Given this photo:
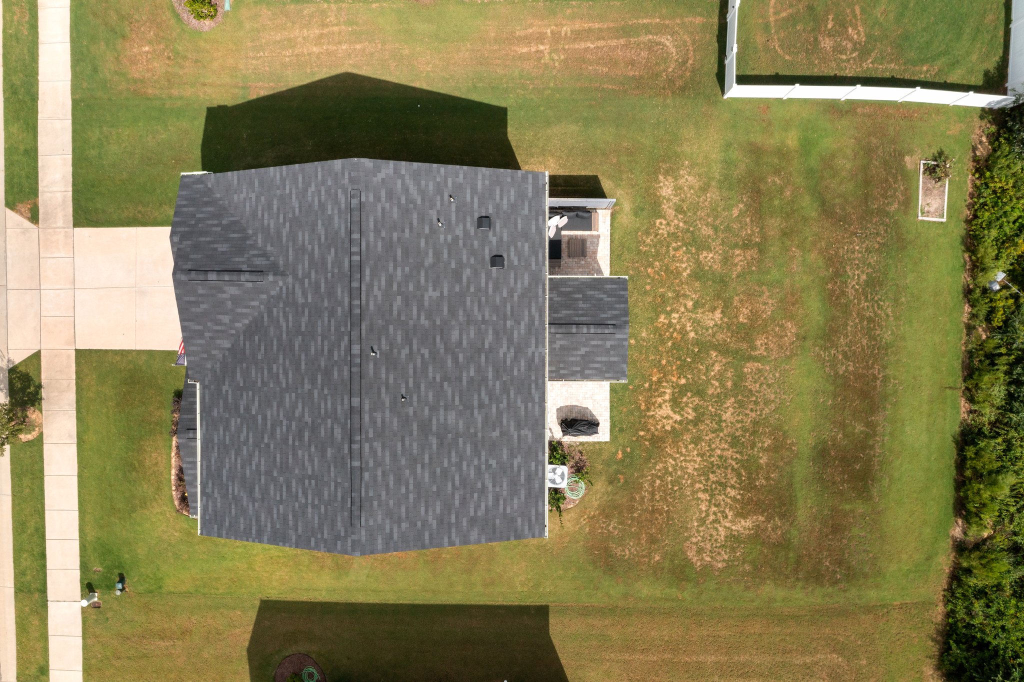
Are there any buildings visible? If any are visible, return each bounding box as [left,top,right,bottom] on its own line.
[170,158,630,555]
